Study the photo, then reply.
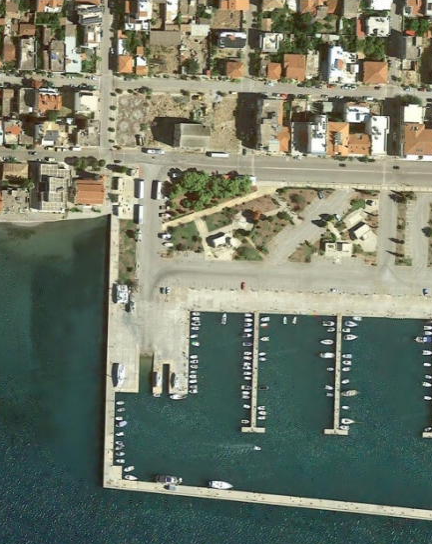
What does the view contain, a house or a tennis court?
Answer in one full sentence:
Of the two, only a house appears.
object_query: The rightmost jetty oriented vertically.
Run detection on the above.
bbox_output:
[323,316,348,435]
